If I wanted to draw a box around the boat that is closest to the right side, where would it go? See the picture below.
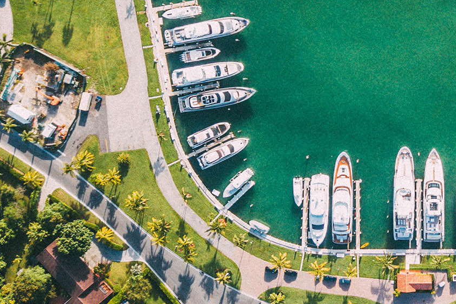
[420,149,444,241]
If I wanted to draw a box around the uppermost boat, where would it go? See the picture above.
[163,5,201,19]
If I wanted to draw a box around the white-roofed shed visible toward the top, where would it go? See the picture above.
[7,100,38,125]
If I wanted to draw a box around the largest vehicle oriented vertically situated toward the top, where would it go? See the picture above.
[80,90,92,113]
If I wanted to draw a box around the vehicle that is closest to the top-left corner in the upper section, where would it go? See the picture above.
[37,88,62,106]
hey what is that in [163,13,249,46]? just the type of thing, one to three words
boat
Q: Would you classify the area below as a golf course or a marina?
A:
marina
